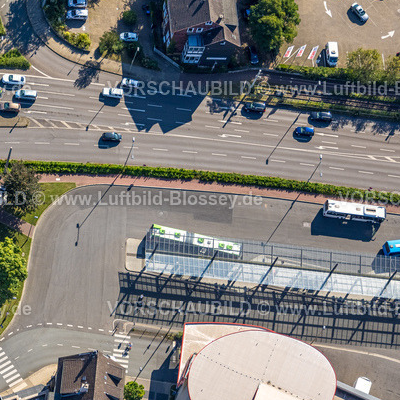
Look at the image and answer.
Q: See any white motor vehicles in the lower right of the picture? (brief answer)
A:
Yes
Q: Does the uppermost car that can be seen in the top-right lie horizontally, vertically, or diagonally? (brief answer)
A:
diagonally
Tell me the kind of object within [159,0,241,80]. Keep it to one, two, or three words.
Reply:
house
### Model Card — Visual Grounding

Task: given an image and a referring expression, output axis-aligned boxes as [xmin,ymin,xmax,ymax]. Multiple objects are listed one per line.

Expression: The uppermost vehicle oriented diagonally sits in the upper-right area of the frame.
[350,3,370,23]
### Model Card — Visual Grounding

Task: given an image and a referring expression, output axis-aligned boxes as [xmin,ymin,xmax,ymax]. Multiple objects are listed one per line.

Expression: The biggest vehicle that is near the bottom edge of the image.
[356,372,372,391]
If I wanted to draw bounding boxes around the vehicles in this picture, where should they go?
[309,110,332,122]
[321,202,385,225]
[68,0,87,8]
[120,78,138,89]
[15,89,37,101]
[0,102,21,113]
[244,101,266,113]
[101,131,122,142]
[356,372,372,391]
[102,87,123,99]
[65,8,89,21]
[2,74,25,86]
[380,241,400,260]
[120,31,139,42]
[294,126,314,137]
[350,3,370,23]
[325,37,340,66]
